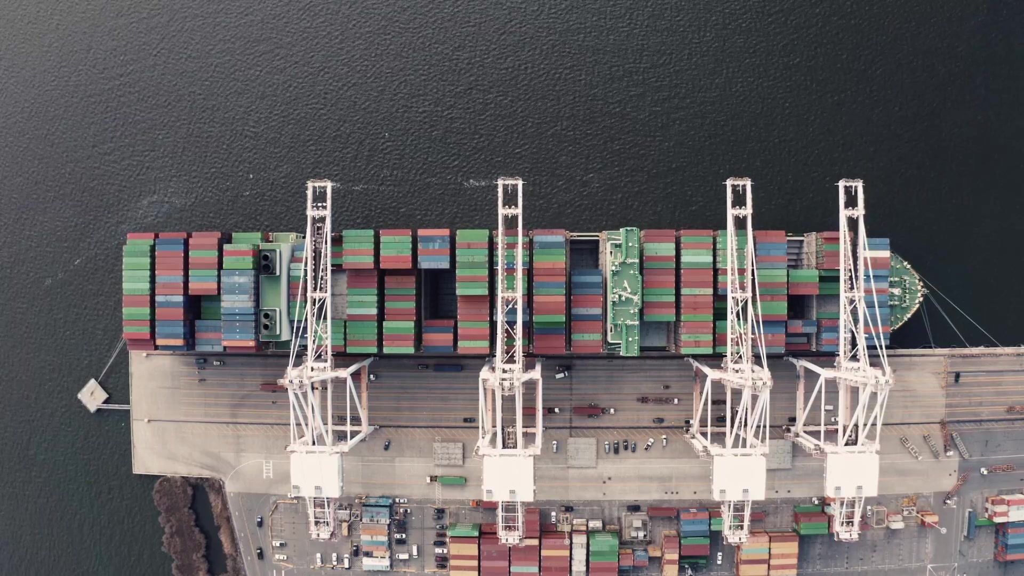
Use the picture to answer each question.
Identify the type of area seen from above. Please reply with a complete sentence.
This image shows a port.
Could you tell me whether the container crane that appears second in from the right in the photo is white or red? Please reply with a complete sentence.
From above, the container crane that appears second in from the right appears white.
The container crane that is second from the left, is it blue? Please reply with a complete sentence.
No, from above the container crane that is second from the left looks white.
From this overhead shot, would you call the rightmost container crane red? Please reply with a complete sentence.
No, the rightmost container crane is actually white.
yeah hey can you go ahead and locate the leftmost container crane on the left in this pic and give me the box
[285,178,384,547]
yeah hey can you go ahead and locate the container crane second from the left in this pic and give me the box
[473,177,551,549]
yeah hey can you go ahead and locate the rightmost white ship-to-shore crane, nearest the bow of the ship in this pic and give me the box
[772,174,891,549]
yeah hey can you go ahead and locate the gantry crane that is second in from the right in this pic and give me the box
[675,176,771,549]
